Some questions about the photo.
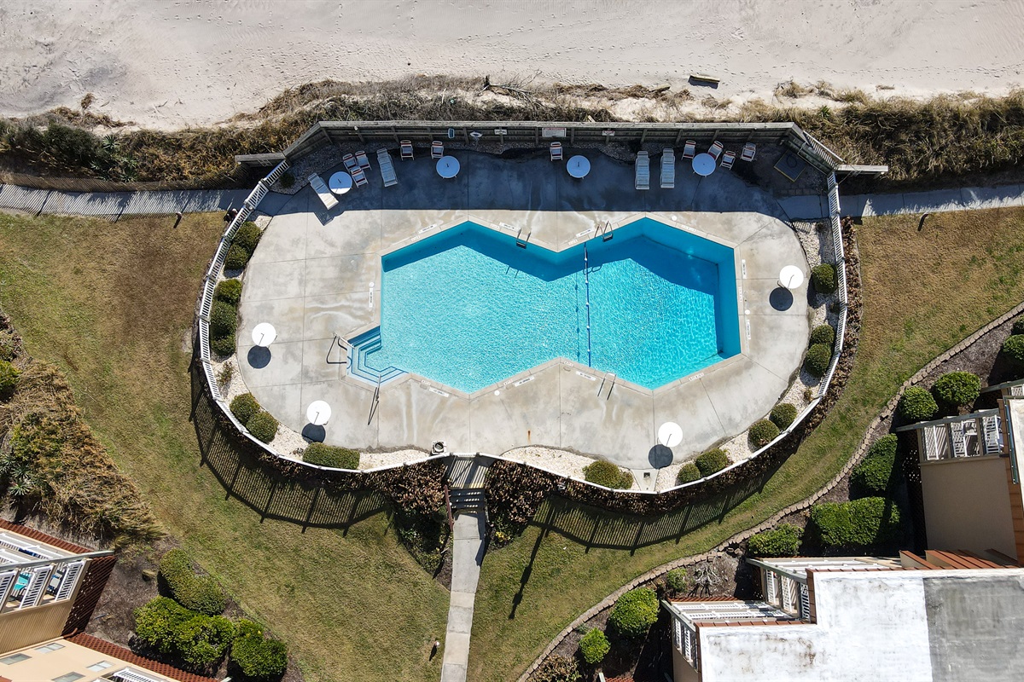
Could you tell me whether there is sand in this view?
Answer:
Yes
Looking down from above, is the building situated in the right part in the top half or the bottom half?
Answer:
bottom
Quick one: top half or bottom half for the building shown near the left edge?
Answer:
bottom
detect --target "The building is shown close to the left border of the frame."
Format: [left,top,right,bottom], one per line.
[0,519,230,682]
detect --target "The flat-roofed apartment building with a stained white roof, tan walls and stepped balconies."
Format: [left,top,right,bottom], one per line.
[598,380,1024,682]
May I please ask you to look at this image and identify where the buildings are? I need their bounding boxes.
[598,380,1024,682]
[0,519,230,682]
